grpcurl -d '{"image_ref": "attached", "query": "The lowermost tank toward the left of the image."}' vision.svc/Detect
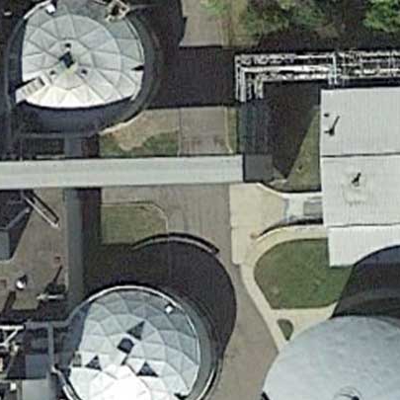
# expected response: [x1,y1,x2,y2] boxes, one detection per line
[63,285,217,400]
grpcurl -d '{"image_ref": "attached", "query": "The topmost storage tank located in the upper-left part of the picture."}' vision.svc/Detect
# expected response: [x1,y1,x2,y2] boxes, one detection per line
[3,0,168,137]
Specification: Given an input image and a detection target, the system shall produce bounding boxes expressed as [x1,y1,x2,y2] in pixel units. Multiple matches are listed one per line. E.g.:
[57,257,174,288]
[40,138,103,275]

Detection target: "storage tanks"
[63,285,217,400]
[3,0,168,137]
[261,314,400,400]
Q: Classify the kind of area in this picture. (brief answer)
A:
industrial area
